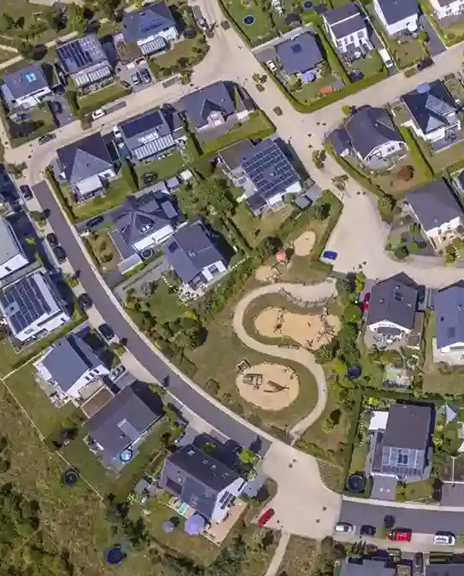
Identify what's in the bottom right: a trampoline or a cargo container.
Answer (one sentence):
Looking in the bottom right, you will find a trampoline.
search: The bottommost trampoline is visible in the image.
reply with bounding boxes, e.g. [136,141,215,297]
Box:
[104,545,125,564]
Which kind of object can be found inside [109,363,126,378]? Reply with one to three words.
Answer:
car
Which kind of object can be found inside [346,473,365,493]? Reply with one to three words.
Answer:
trampoline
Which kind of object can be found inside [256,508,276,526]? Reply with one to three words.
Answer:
car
